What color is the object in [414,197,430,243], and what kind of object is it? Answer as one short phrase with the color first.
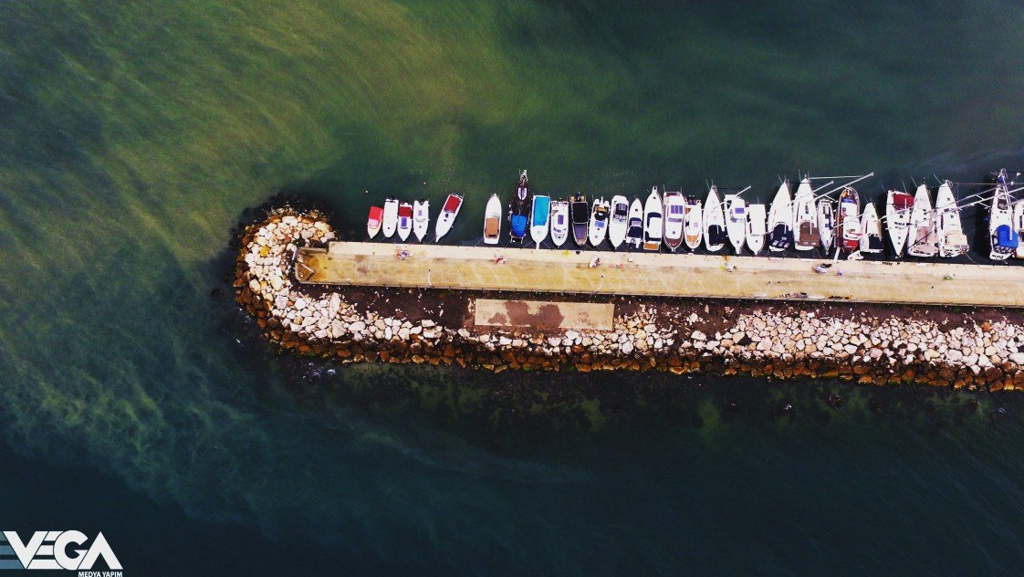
white boat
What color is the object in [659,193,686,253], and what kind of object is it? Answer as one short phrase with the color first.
white boat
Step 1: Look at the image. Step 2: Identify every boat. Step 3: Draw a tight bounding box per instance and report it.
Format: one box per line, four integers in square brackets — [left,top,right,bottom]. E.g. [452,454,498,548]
[395,201,413,243]
[571,196,589,249]
[682,195,706,254]
[829,186,858,262]
[588,197,610,250]
[607,195,629,251]
[983,170,1024,264]
[379,197,399,242]
[642,183,662,253]
[428,192,463,243]
[506,172,532,247]
[765,175,833,257]
[813,196,860,257]
[414,197,430,243]
[483,194,501,246]
[364,204,384,242]
[720,196,745,255]
[1009,188,1024,261]
[550,199,569,249]
[882,188,968,261]
[523,193,551,248]
[852,196,918,257]
[701,181,752,255]
[627,198,643,248]
[659,193,686,253]
[744,201,768,256]
[792,172,872,258]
